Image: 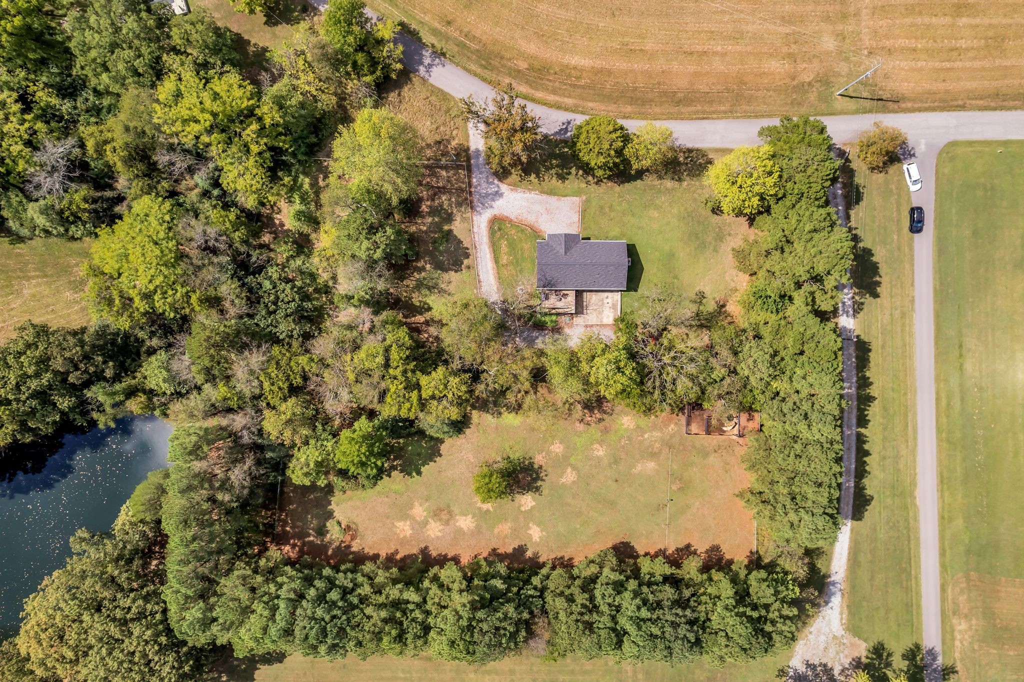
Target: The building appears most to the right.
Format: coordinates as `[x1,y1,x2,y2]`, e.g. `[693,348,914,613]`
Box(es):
[537,232,629,290]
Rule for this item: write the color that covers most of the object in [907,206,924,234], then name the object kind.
black car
